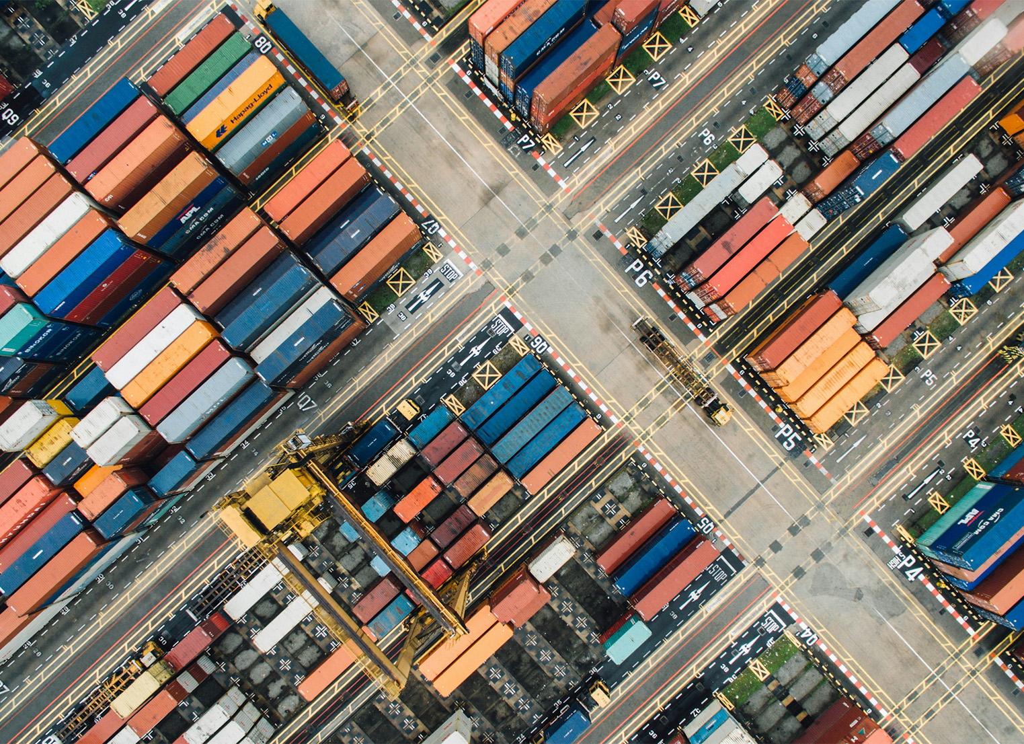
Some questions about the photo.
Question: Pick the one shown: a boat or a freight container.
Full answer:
I can see a freight container in this picture.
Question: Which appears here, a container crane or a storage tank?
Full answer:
It is a container crane that can be seen here.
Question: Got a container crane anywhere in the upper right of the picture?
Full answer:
No, there's no container crane to be seen in the upper right of the picture.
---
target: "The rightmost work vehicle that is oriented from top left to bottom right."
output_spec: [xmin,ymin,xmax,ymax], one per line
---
[698,390,739,431]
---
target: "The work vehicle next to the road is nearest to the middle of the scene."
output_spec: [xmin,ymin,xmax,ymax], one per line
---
[388,395,425,434]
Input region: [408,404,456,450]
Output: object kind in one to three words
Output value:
shipping container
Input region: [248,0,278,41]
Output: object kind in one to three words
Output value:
work vehicle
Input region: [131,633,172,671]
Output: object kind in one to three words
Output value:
work vehicle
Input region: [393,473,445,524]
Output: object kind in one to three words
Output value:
shipping container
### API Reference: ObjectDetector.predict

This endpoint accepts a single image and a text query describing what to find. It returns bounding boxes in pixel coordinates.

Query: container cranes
[212,418,490,707]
